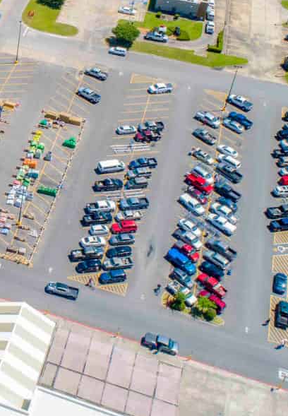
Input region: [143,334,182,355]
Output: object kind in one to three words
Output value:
vehicle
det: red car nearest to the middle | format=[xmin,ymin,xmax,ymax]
[110,220,138,235]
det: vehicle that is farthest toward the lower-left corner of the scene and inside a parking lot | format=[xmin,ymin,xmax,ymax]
[45,282,79,302]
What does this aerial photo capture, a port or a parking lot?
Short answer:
parking lot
